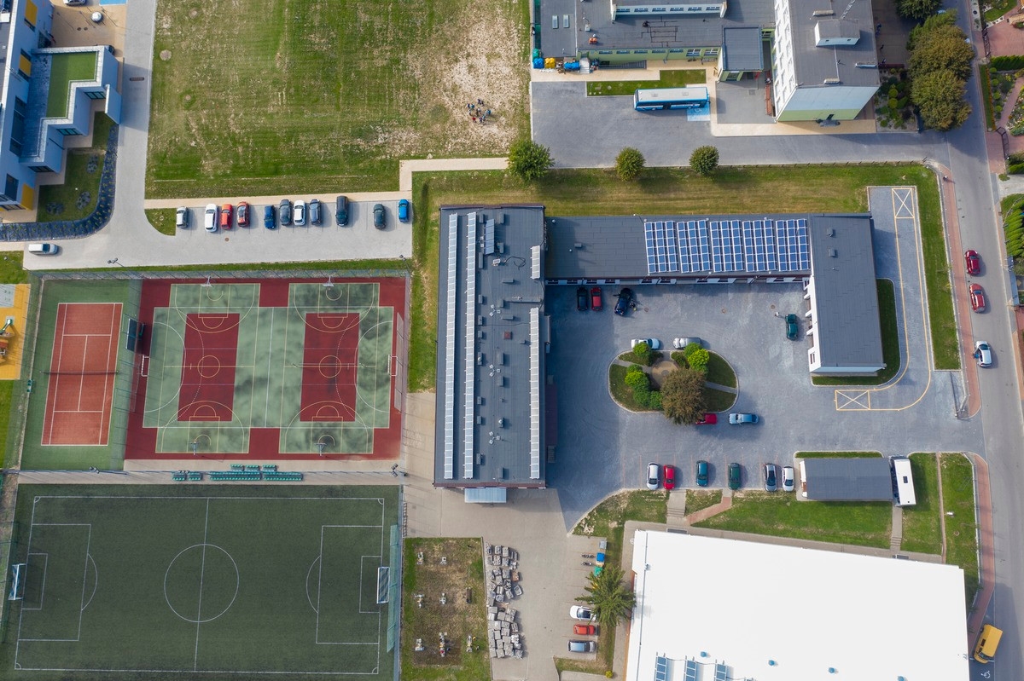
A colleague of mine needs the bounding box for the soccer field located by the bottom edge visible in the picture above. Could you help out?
[4,486,401,681]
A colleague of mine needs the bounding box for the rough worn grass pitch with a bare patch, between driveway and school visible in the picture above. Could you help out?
[145,0,531,198]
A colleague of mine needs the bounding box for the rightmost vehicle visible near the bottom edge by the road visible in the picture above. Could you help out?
[975,622,1002,665]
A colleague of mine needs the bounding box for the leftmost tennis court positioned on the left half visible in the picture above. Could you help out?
[20,279,141,470]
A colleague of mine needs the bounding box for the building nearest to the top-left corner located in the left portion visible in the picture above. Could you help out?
[0,0,117,211]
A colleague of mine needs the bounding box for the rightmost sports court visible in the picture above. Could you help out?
[125,278,408,459]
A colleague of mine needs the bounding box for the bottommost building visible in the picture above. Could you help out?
[623,530,970,681]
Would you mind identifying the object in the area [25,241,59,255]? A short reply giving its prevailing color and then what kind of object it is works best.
white vehicle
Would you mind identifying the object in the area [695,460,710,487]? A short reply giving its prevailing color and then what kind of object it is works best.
blue car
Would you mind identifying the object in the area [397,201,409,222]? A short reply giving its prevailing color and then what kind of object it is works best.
blue vehicle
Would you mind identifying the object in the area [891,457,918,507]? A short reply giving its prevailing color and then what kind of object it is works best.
white vehicle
